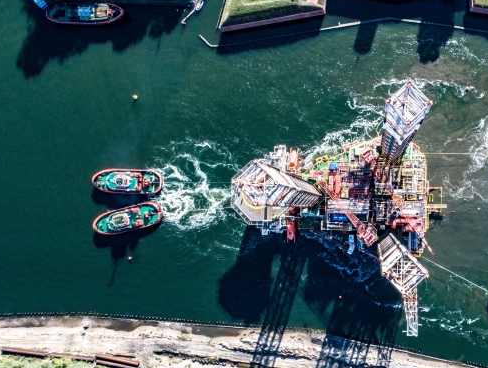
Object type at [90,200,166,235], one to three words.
boat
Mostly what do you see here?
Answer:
water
